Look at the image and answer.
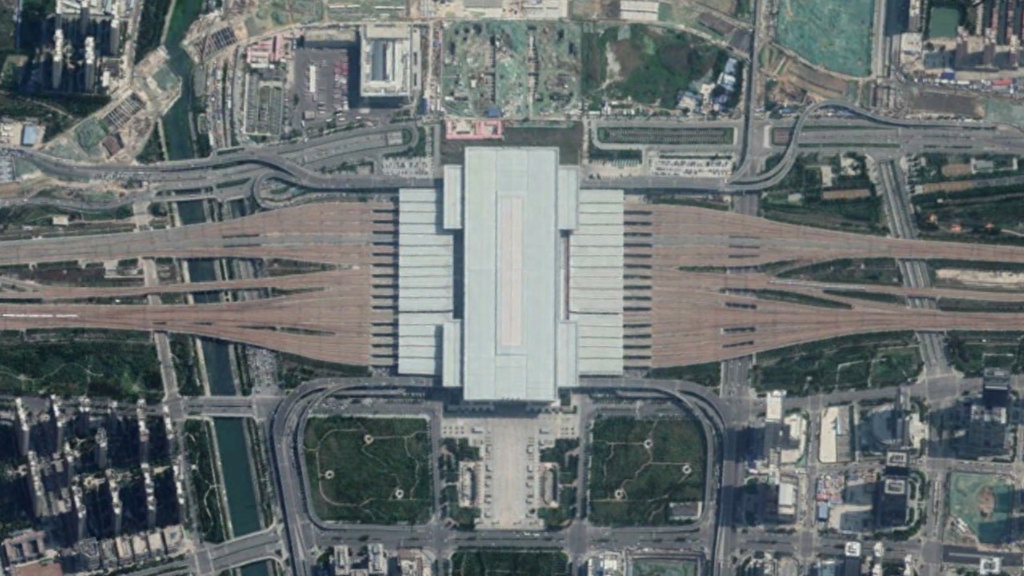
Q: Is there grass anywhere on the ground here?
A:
Yes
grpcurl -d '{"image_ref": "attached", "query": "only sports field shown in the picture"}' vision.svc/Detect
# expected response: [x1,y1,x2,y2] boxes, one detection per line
[929,7,958,37]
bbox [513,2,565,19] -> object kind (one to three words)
shed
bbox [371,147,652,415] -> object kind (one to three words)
train station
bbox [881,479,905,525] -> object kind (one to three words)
building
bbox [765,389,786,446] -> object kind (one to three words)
building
